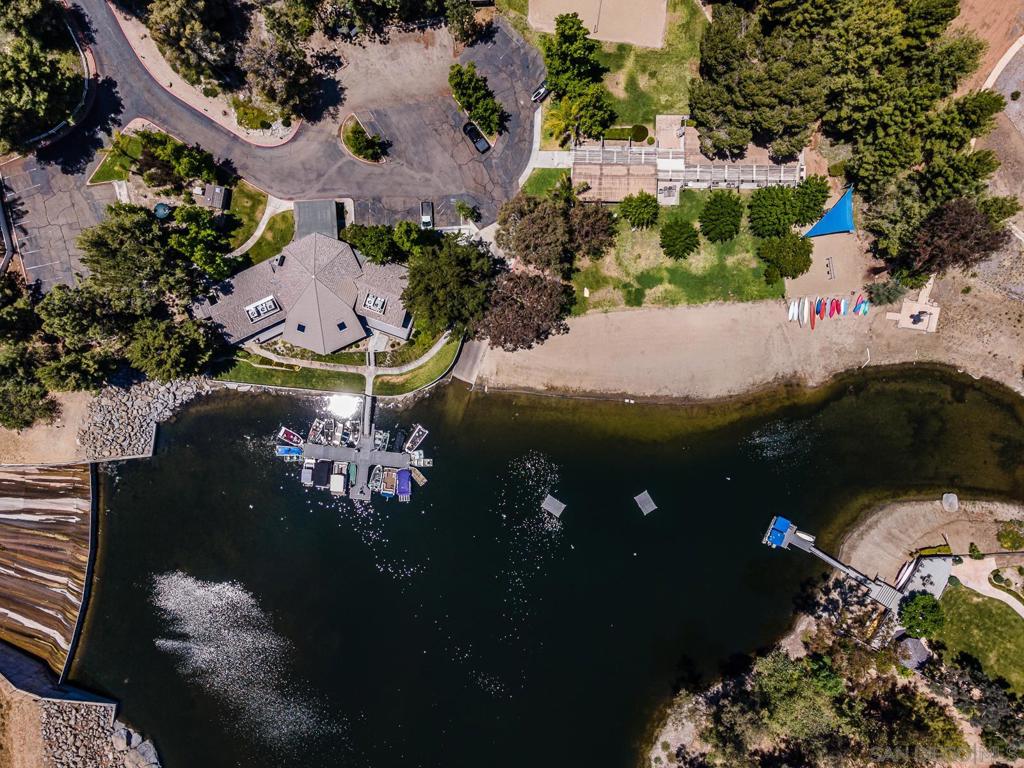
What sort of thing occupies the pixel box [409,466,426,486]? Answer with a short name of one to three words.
boat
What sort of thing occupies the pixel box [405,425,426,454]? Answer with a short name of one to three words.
boat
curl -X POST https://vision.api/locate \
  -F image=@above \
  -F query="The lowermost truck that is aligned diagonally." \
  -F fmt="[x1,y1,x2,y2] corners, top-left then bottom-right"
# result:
[463,119,490,154]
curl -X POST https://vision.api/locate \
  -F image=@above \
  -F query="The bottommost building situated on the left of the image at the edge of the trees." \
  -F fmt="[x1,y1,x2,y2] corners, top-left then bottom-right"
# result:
[193,200,415,355]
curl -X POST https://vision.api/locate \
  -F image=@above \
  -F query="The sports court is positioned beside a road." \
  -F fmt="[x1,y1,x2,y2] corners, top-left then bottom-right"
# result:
[528,0,666,48]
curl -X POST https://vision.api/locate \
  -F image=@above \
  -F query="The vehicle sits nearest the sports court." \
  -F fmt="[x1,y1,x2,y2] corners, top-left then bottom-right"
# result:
[529,80,547,102]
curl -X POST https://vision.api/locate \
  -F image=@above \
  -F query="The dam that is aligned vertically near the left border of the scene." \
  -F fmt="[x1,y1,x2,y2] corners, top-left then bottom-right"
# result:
[0,455,98,693]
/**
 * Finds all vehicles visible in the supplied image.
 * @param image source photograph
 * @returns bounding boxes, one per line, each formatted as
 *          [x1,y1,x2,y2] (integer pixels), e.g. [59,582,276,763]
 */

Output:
[529,80,547,102]
[331,20,359,39]
[419,198,433,231]
[463,119,490,154]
